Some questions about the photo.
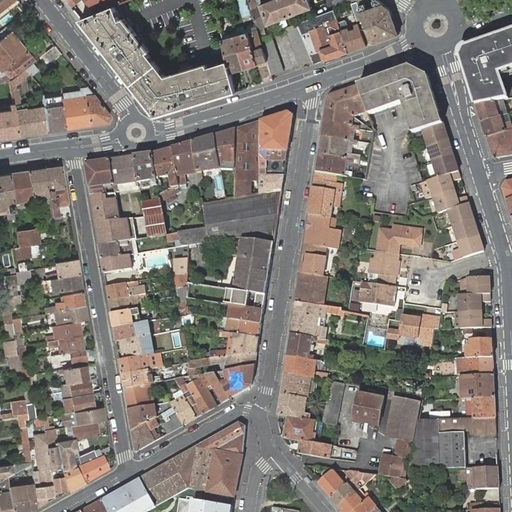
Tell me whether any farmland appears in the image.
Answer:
No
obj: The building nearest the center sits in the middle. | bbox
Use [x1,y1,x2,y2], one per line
[232,238,273,292]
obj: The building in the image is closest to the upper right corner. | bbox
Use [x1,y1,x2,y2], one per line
[456,24,512,102]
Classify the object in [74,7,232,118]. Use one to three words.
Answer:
building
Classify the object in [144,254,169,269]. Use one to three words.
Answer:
swimming pool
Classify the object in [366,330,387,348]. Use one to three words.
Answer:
swimming pool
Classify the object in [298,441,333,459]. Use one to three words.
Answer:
house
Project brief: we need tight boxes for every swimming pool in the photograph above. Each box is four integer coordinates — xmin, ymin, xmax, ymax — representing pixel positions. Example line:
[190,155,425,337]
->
[170,331,182,348]
[2,253,11,268]
[213,174,224,192]
[0,12,14,27]
[366,330,387,348]
[238,0,250,18]
[144,254,169,269]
